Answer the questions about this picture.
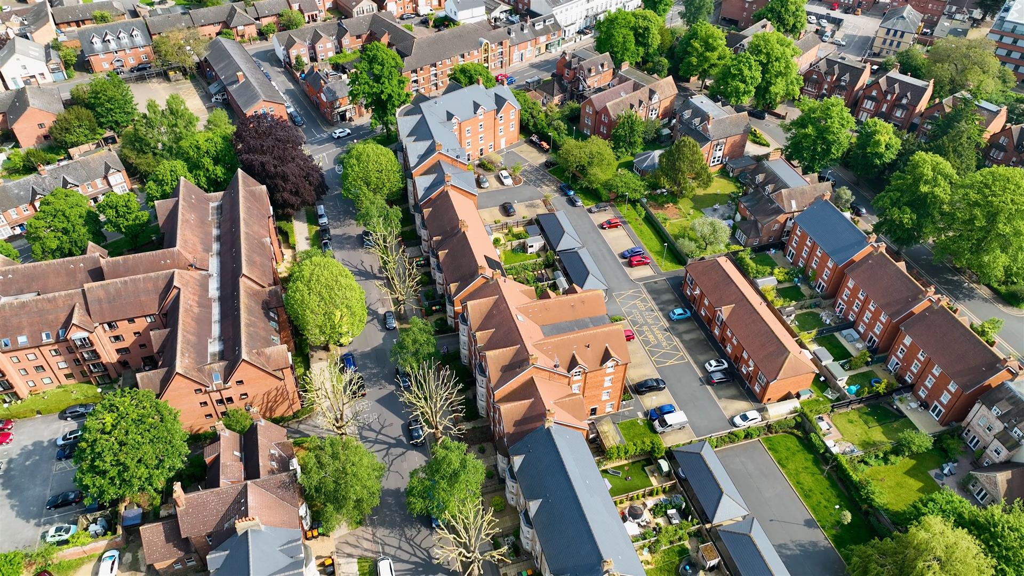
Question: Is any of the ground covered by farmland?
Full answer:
No, the scene doesn't show any farmland.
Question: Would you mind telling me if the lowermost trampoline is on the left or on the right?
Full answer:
The lowermost trampoline sits on the right side.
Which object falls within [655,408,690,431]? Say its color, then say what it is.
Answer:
white vehicle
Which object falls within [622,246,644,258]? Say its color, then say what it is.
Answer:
blue vehicle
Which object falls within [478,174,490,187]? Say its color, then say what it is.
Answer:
gray vehicle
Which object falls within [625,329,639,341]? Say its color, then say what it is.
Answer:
red vehicle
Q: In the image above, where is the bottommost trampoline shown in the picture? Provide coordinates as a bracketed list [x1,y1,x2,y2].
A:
[676,552,704,576]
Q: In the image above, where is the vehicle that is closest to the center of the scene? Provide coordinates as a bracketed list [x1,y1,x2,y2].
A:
[503,204,517,217]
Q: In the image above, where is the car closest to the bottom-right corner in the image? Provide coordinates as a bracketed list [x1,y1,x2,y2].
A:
[732,410,762,428]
